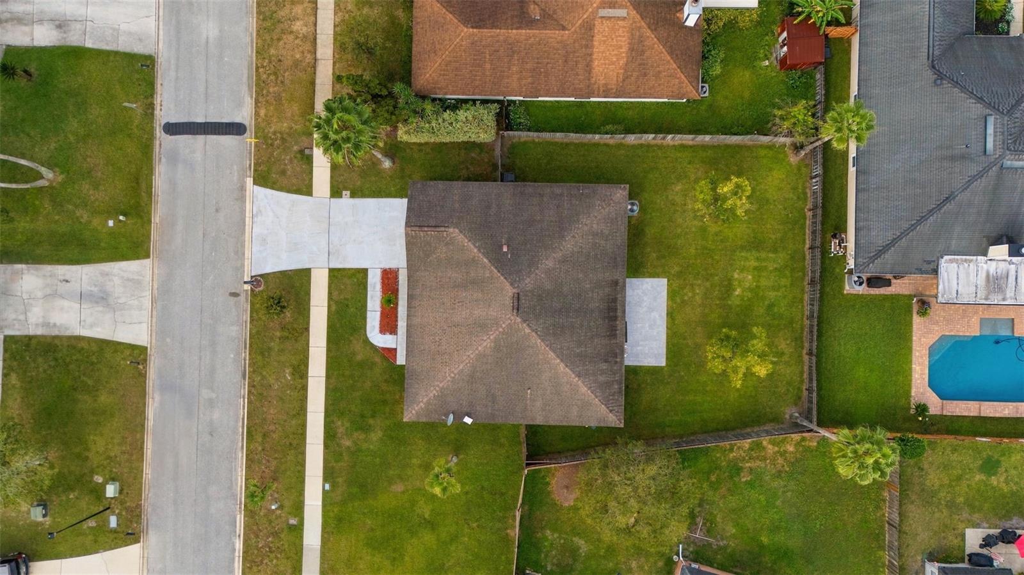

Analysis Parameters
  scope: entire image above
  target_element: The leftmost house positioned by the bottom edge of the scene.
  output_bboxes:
[676,545,736,575]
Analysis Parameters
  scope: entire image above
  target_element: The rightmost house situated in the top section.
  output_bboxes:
[846,0,1024,306]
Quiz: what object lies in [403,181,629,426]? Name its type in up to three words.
house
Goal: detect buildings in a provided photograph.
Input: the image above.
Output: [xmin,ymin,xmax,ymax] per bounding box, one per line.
[411,0,758,101]
[676,545,736,575]
[774,16,828,73]
[846,0,1024,306]
[403,181,629,426]
[926,560,1014,575]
